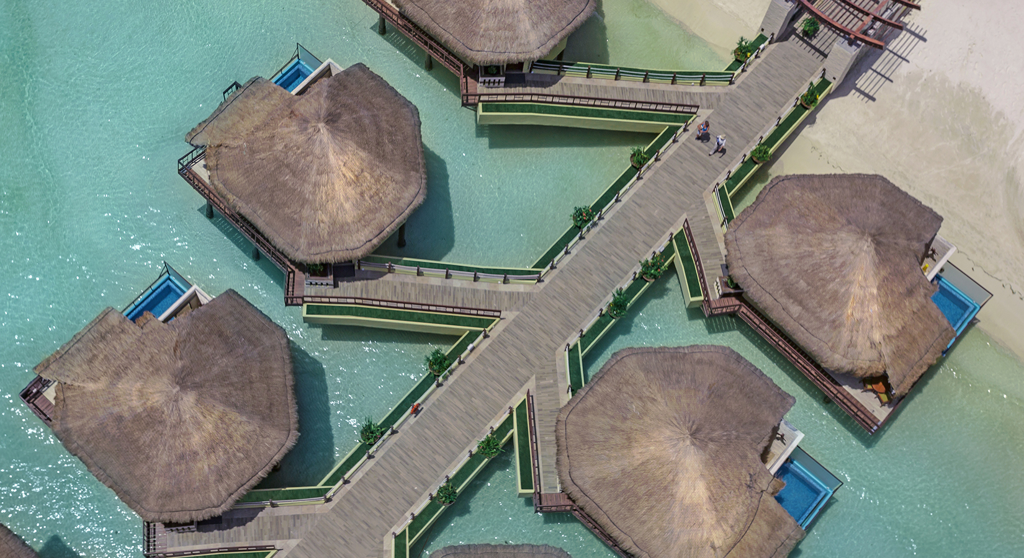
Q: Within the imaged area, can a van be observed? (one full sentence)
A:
No, I can see no van in this picture.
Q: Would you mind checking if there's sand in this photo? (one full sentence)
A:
Yes, there is sand in the image.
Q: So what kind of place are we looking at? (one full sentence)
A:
The area seen from above is a residential area.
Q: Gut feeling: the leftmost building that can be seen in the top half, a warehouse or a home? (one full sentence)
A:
The leftmost building that can be seen in the top half can be classified as a home.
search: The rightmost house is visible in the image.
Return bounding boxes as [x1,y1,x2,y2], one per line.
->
[707,173,956,437]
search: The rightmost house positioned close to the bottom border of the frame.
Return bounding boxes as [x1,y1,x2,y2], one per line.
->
[538,343,808,558]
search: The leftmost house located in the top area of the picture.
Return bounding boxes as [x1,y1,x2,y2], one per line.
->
[179,60,430,306]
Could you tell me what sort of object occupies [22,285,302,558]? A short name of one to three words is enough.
house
